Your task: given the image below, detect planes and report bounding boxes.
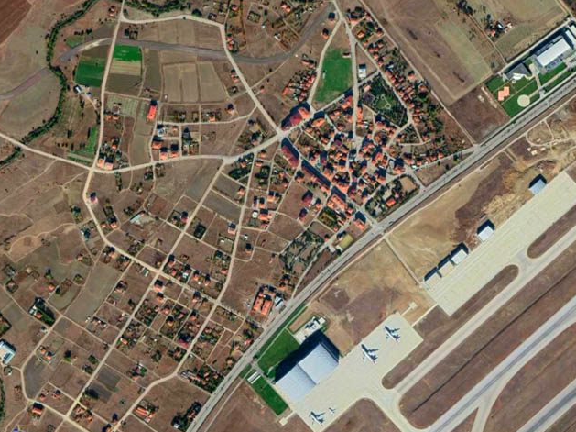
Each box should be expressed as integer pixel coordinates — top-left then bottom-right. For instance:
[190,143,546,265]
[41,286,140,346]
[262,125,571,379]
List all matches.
[387,330,401,344]
[313,415,324,426]
[363,348,379,366]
